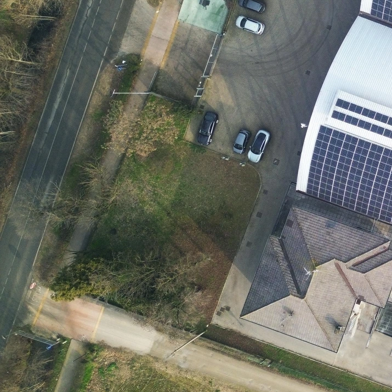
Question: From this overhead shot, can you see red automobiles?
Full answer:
No, the picture doesn't show any red automobile.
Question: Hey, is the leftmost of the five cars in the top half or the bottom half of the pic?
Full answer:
You can find the leftmost of the five cars in the top half.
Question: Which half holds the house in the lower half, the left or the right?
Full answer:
The house in the lower half appears in the right half of the scene.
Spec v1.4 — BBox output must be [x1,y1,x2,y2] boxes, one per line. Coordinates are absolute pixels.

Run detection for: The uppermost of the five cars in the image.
[237,0,267,14]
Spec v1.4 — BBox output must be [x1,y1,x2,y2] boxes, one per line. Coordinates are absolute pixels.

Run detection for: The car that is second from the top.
[236,16,267,34]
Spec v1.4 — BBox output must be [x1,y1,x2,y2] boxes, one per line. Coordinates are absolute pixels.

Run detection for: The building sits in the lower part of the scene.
[240,207,392,353]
